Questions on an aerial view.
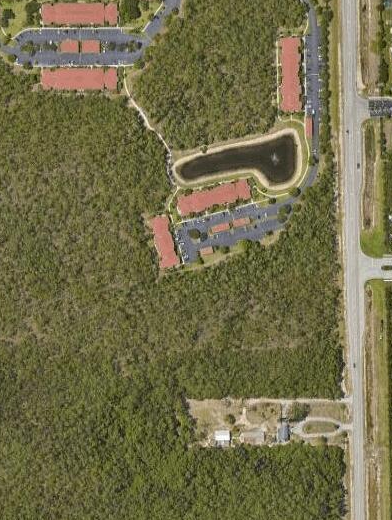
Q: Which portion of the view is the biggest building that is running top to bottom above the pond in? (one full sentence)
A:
Look in the top right portion of the view to spot the biggest building that is running top to bottom above the pond.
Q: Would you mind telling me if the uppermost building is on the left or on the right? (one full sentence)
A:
The uppermost building appears in the left half of the scene.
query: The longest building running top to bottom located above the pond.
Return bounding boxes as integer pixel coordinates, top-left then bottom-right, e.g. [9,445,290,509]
[279,36,302,110]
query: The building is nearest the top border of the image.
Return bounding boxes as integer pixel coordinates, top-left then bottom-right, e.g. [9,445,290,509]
[41,0,116,25]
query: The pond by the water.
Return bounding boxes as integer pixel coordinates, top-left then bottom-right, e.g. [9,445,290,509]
[180,135,297,186]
